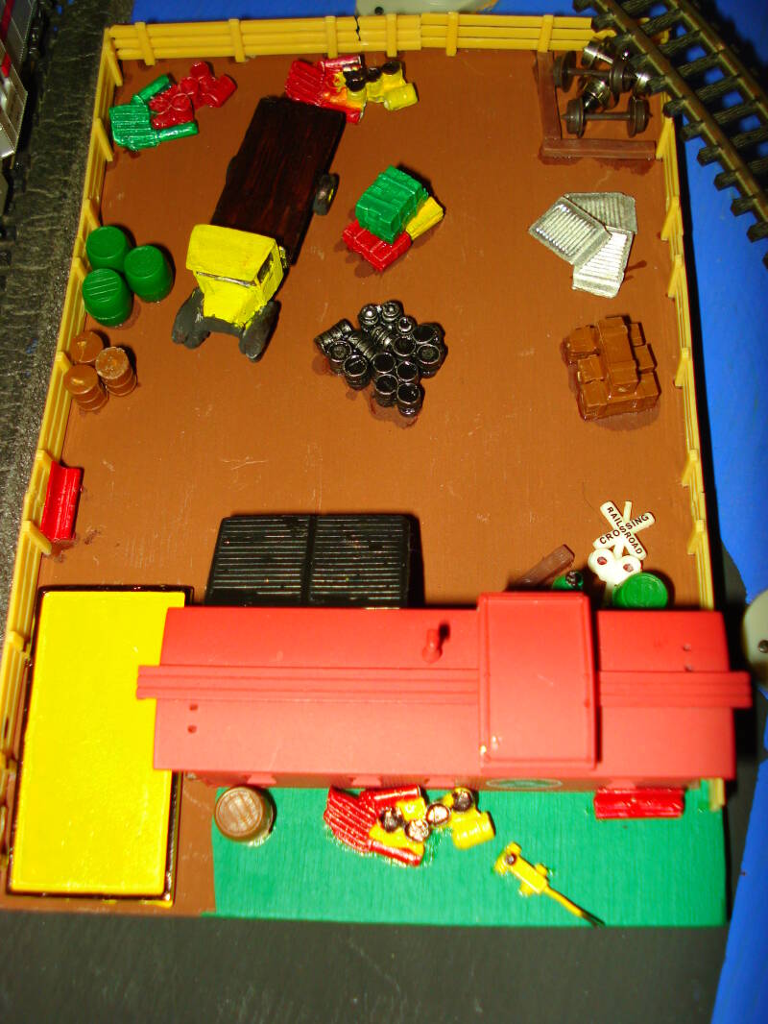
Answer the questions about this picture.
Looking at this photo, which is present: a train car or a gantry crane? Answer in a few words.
train car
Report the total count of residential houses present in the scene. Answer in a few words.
0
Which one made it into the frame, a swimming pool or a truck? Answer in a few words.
truck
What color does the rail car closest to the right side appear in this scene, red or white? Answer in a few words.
red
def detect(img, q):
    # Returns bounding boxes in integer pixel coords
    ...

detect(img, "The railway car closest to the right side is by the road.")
[136,594,754,793]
